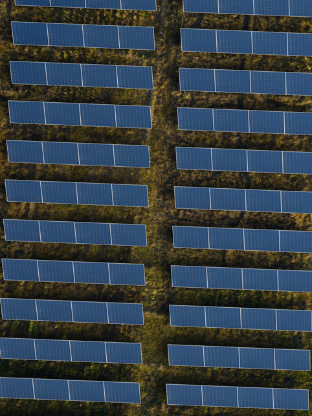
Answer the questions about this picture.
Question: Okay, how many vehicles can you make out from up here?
zero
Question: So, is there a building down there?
No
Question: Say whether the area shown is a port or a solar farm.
solar farm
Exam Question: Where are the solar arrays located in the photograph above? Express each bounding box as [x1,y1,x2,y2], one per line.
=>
[0,338,141,365]
[10,61,153,90]
[5,180,148,208]
[8,101,152,129]
[11,22,155,51]
[174,187,312,214]
[7,140,150,169]
[3,219,147,247]
[168,344,310,372]
[0,378,140,404]
[181,28,312,57]
[179,68,312,96]
[14,0,156,11]
[169,305,312,333]
[0,299,144,326]
[1,259,145,287]
[183,0,312,17]
[177,107,312,136]
[172,226,312,254]
[166,384,308,411]
[171,266,312,293]
[176,147,312,175]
